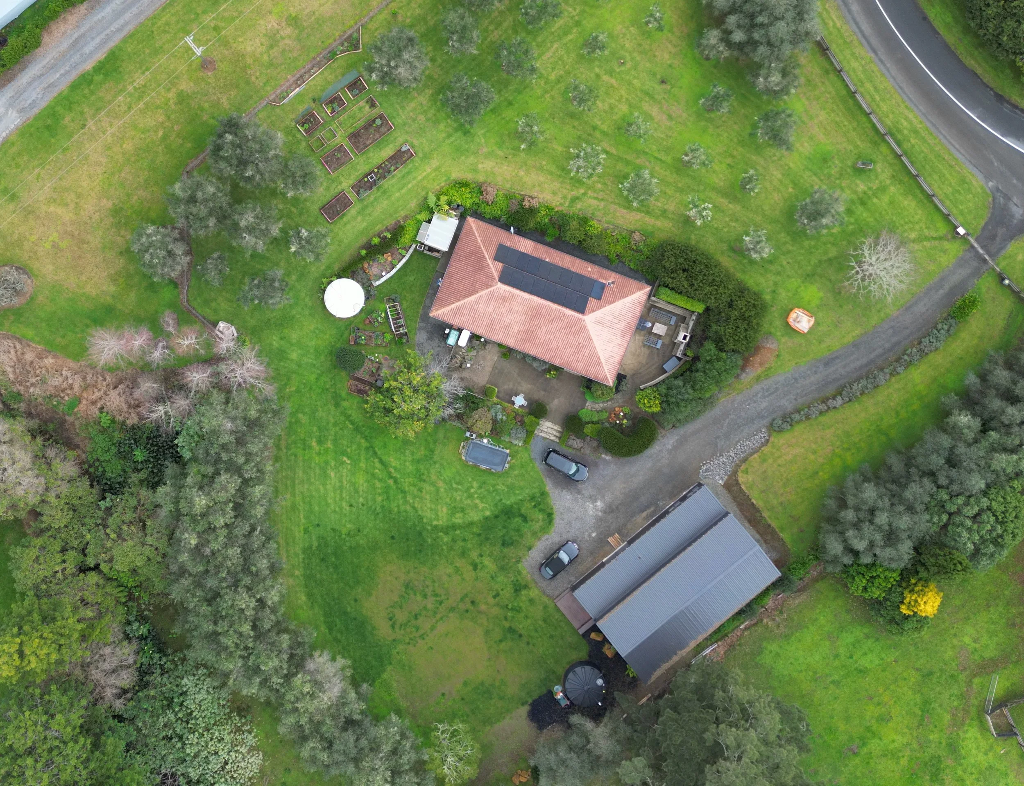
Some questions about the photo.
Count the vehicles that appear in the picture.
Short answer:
2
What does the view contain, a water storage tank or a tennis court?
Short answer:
water storage tank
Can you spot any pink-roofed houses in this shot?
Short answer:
Yes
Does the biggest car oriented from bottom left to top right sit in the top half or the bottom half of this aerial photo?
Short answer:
bottom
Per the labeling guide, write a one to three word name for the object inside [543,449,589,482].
car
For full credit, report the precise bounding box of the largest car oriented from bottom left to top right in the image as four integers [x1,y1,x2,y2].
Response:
[539,540,580,580]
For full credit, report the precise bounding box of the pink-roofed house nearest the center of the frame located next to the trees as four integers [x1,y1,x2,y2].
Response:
[429,215,652,387]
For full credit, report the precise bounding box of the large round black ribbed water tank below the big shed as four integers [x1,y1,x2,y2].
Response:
[564,661,608,707]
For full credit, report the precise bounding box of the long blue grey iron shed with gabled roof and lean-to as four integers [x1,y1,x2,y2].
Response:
[571,482,782,685]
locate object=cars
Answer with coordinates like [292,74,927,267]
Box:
[543,449,589,482]
[539,540,580,580]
